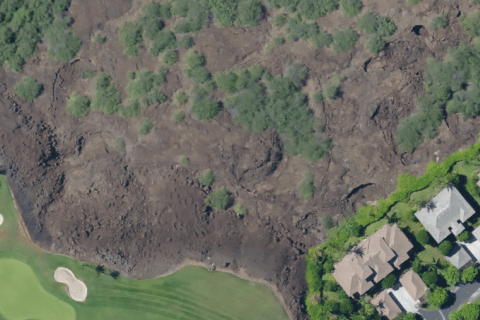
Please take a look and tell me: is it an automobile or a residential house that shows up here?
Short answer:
residential house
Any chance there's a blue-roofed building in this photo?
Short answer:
No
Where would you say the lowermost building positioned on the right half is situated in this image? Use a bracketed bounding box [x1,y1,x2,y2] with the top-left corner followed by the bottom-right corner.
[371,289,403,320]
